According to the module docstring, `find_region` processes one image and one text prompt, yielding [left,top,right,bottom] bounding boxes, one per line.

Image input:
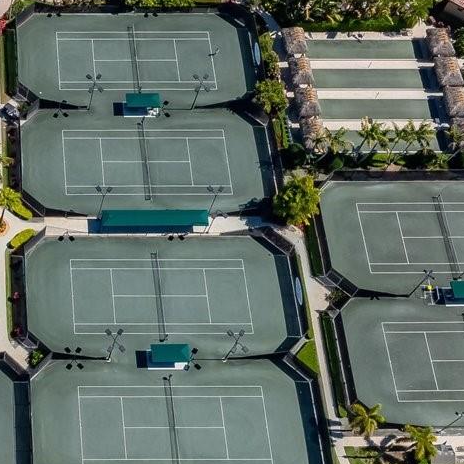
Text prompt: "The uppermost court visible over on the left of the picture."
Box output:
[17,13,259,110]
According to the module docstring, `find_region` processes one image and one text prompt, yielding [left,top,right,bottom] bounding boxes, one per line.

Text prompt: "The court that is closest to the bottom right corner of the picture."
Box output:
[341,297,464,429]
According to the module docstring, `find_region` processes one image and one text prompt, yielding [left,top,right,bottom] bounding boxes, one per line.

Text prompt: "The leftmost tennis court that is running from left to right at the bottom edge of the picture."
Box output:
[28,359,325,464]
